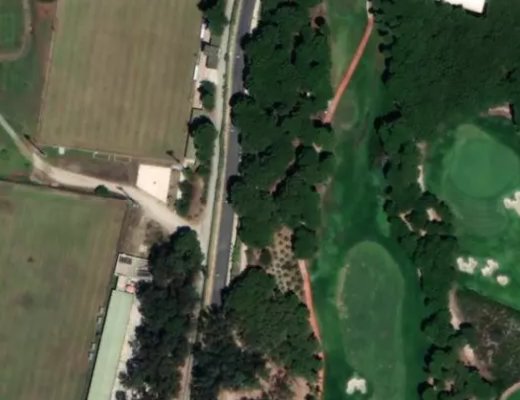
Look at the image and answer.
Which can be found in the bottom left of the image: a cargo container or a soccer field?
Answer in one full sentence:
Visible in the bottom left of the image is a soccer field.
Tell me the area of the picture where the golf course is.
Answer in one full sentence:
The golf course sits in the right section of the image.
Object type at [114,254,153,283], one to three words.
building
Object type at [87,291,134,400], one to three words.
building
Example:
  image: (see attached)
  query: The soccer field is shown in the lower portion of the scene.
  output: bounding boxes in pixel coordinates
[0,183,126,400]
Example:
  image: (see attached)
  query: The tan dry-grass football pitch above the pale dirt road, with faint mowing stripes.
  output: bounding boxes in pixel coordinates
[38,0,202,160]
